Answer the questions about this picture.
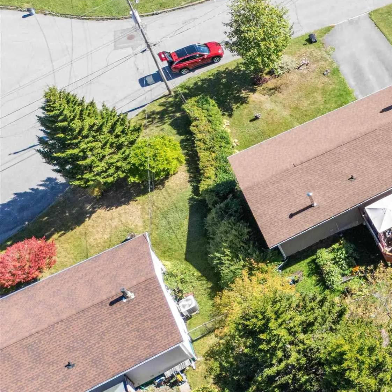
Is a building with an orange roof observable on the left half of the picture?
No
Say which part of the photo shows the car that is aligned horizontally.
top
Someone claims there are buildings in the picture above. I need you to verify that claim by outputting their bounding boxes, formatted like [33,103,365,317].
[0,231,200,392]
[230,85,392,260]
